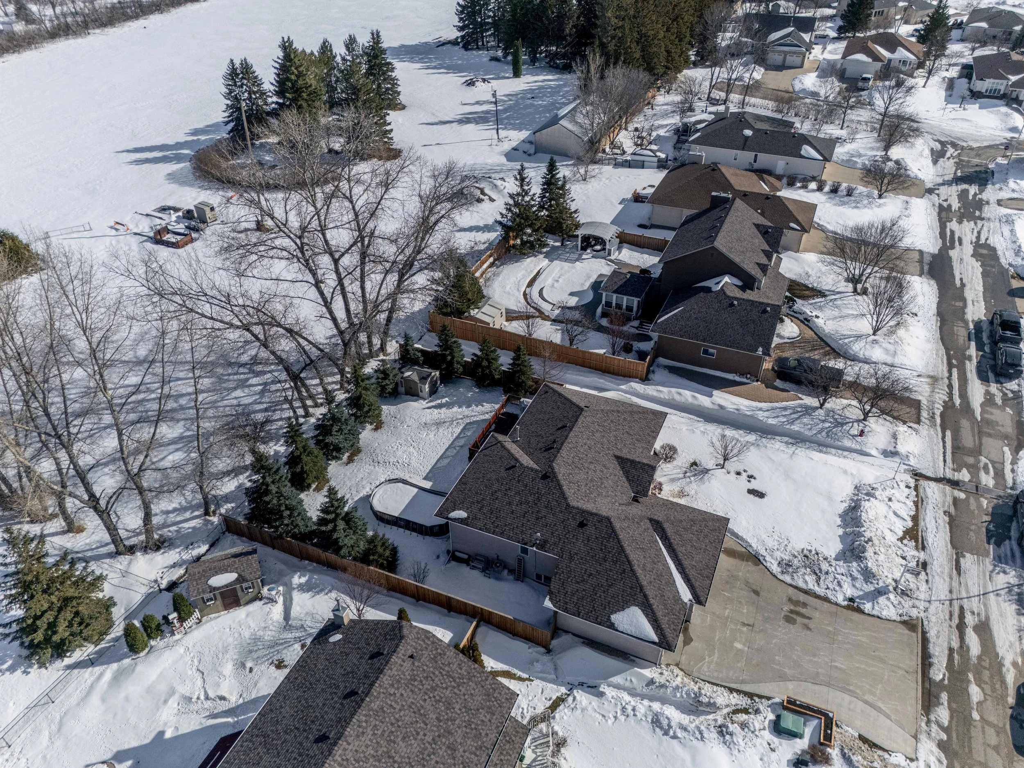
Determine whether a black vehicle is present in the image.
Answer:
Yes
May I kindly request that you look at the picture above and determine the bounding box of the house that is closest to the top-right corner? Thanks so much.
[962,7,1024,41]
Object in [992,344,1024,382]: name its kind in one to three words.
car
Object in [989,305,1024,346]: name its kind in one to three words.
truck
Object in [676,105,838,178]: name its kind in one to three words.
house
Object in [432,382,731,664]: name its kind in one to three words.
house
